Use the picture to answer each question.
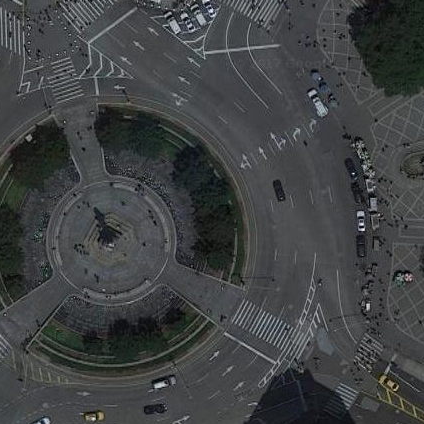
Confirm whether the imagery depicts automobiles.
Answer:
Yes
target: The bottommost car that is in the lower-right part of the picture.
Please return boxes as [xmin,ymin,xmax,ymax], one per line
[378,374,401,393]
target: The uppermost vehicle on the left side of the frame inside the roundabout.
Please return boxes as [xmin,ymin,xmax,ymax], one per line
[151,374,177,390]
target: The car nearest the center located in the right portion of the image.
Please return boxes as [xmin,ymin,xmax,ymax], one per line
[271,178,288,202]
